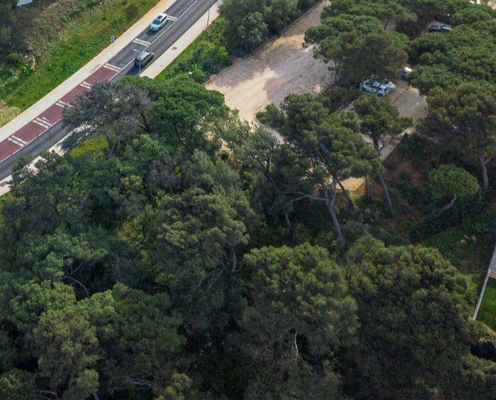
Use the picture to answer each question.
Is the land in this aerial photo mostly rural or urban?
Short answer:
rural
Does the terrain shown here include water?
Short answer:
No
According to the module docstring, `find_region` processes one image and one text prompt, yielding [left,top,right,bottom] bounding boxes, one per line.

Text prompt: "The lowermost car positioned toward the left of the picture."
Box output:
[133,52,155,69]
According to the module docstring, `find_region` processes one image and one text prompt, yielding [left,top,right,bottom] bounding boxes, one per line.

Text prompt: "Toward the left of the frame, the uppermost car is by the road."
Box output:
[149,13,168,31]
